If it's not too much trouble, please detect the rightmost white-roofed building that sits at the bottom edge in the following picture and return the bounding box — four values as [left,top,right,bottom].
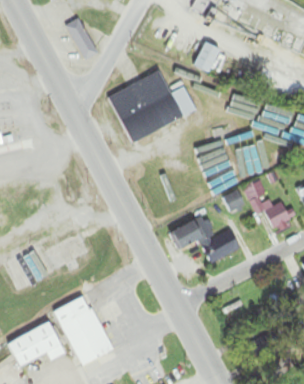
[54,296,112,366]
